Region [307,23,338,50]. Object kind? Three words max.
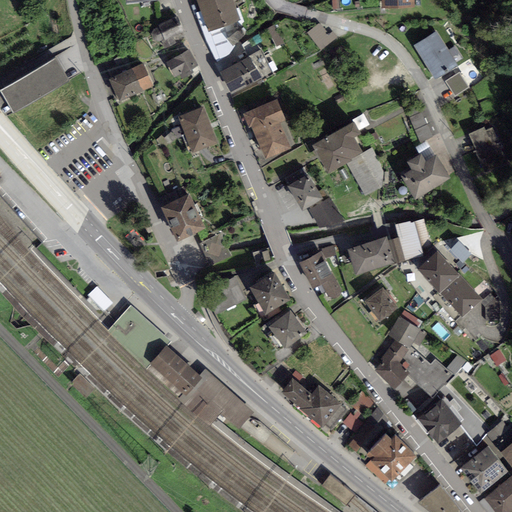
shed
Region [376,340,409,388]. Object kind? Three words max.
house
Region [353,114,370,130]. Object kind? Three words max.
gazebo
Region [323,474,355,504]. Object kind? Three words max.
building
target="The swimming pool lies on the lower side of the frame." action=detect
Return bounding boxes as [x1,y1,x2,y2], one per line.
[432,322,452,341]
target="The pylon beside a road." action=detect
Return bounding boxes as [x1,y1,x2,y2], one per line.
[140,455,160,475]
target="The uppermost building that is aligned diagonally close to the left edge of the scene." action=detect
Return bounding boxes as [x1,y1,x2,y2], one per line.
[1,58,68,111]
